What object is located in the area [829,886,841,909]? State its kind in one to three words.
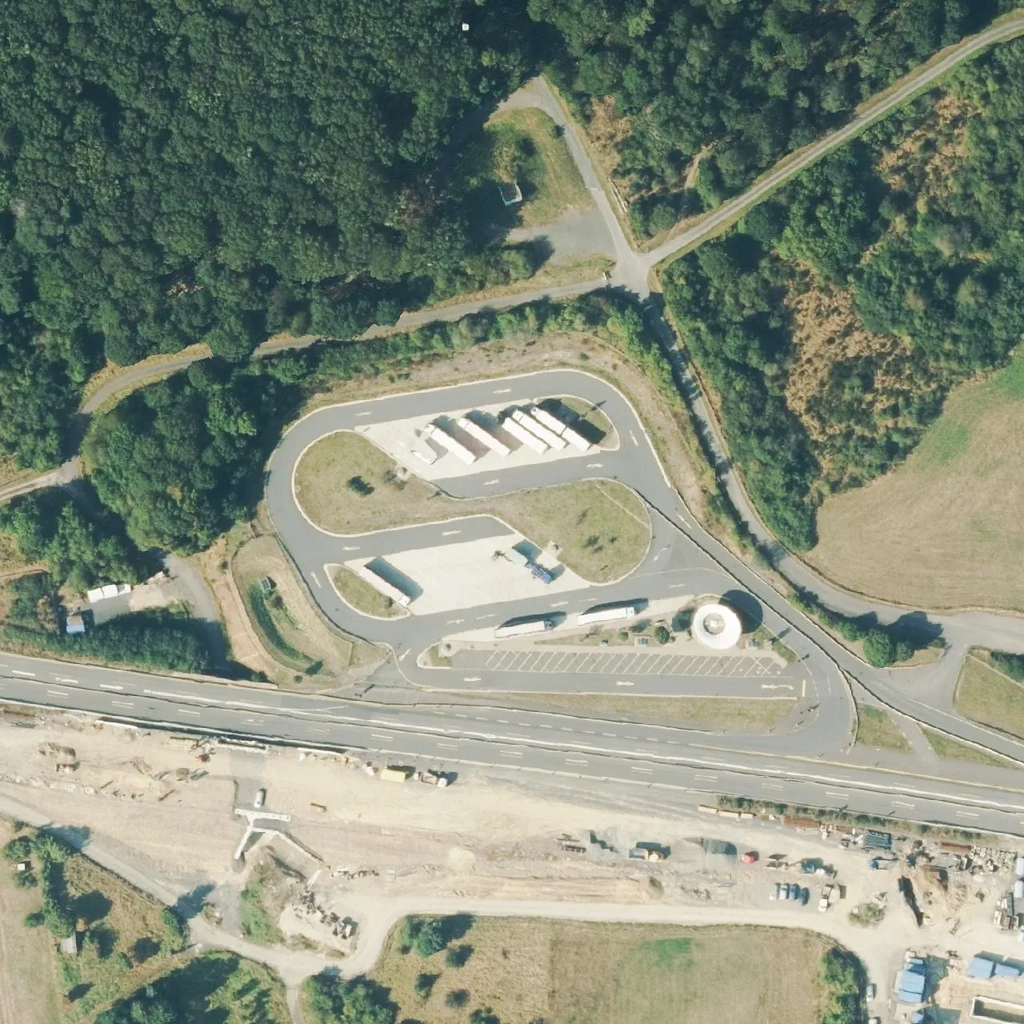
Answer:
vehicle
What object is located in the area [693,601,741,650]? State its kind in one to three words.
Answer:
building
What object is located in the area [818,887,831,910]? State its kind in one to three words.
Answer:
vehicle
